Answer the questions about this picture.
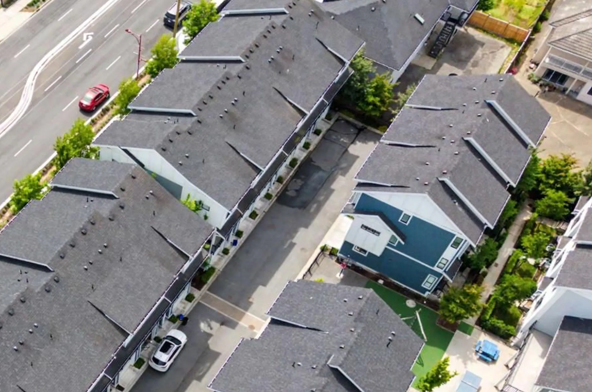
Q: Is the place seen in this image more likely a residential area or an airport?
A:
residential area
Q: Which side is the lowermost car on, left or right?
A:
left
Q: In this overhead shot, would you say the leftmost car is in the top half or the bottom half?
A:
top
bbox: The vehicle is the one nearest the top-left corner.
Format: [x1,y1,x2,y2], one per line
[76,82,110,112]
